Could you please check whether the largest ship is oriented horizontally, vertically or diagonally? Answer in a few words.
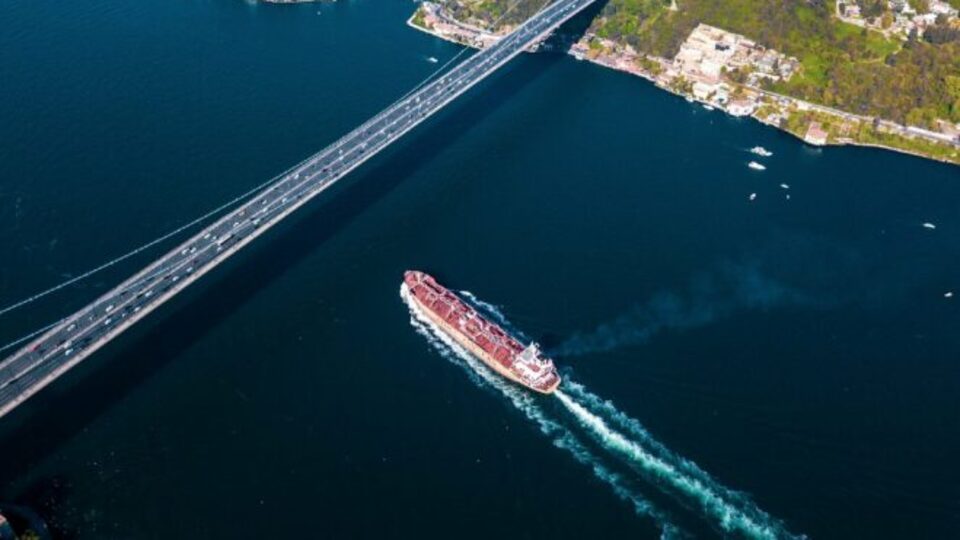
diagonally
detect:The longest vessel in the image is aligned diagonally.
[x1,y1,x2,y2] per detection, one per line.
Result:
[401,268,568,395]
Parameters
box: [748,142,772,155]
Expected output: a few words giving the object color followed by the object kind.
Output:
white boat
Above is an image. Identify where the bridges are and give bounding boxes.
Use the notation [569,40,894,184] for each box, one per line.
[0,0,624,413]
